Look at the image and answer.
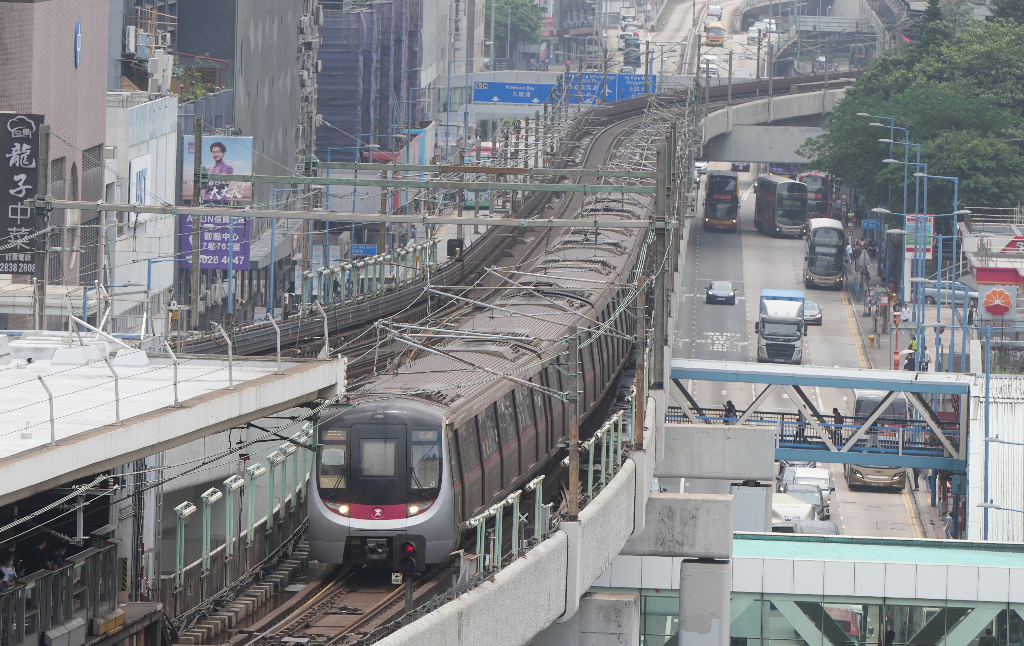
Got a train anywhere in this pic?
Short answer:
Yes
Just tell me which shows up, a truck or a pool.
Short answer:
truck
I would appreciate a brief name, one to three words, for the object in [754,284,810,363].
truck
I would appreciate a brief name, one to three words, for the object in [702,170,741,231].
bus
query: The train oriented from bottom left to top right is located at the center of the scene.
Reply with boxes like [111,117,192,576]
[307,193,650,569]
